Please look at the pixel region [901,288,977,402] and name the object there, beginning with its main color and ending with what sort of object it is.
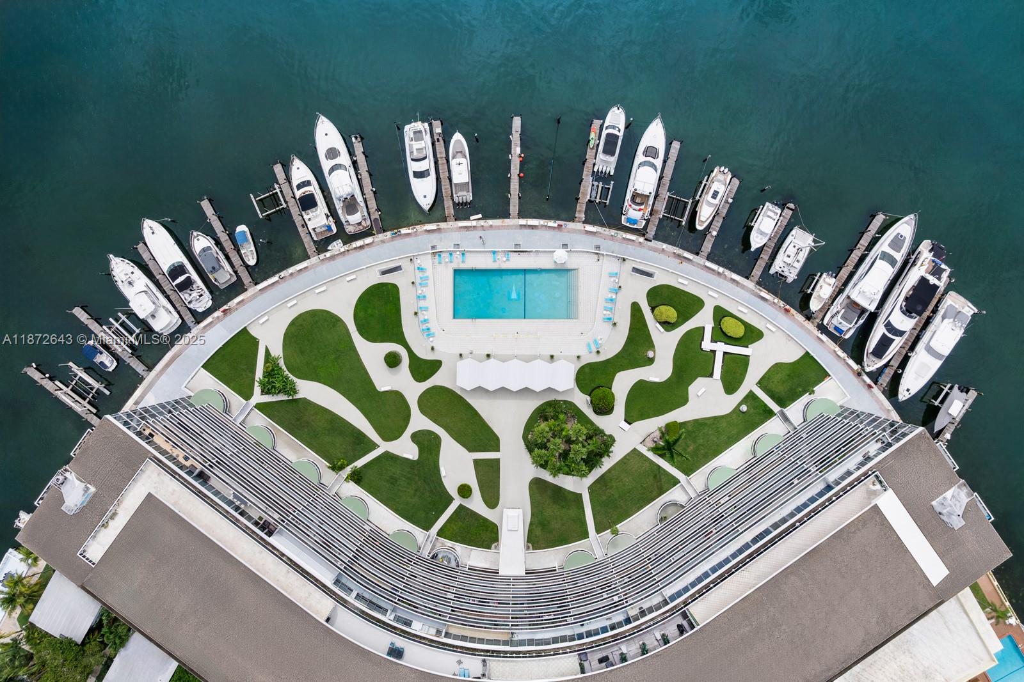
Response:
white boat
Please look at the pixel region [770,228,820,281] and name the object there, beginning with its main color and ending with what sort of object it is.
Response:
white boat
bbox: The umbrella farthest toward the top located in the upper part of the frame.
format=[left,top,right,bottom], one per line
[554,249,567,263]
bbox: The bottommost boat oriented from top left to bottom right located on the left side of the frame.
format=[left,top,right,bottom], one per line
[80,342,117,371]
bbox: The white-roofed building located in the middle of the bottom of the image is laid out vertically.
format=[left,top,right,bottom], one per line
[499,508,526,574]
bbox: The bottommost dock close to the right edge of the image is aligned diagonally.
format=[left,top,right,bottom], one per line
[933,389,984,446]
